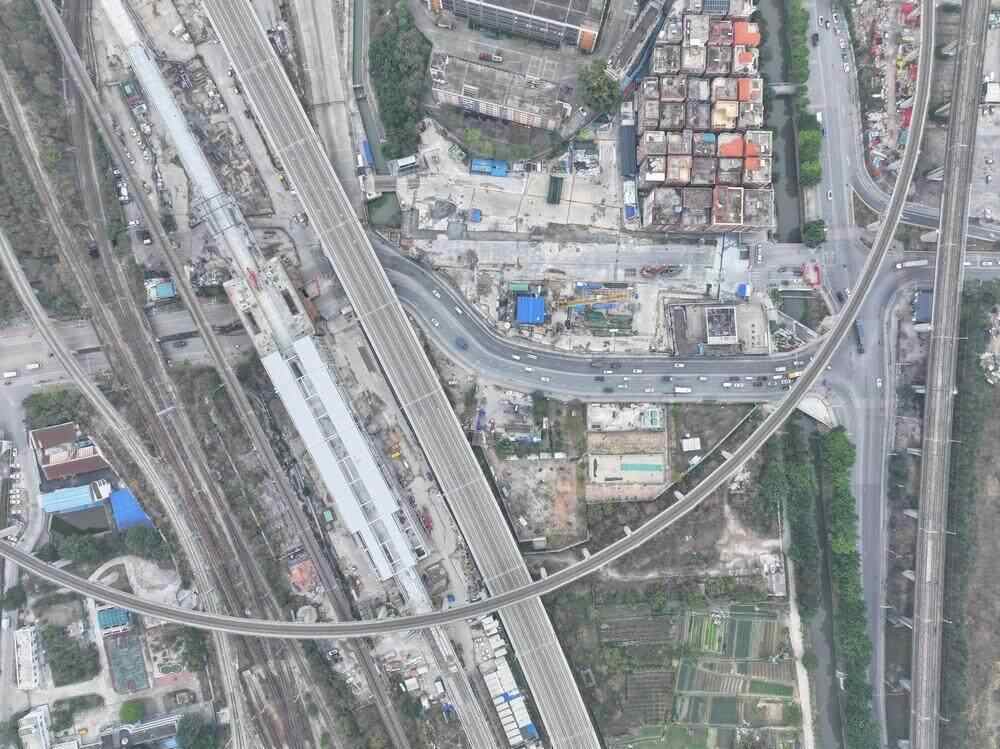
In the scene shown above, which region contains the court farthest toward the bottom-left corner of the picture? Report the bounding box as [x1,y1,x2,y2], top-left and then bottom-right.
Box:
[109,633,148,694]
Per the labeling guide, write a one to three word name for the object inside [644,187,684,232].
house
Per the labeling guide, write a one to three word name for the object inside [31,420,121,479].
building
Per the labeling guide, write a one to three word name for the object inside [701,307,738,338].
building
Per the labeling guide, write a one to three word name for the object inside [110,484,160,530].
shed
